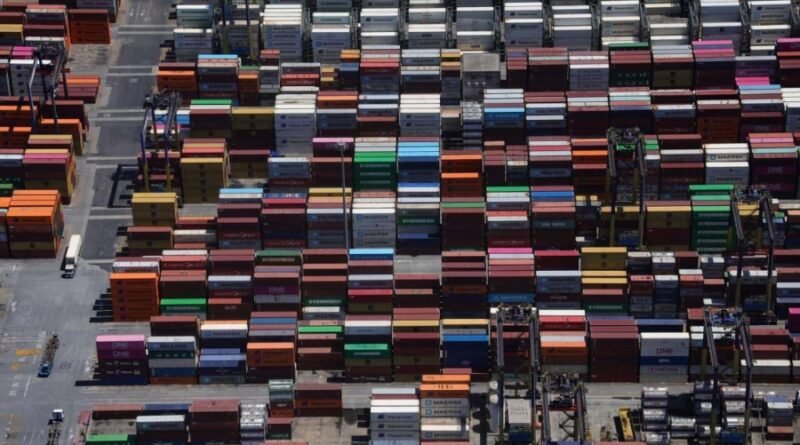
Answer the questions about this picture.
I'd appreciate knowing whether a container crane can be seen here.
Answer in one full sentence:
Yes, there is a container crane in the image.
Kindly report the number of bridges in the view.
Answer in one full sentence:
I count no bridges.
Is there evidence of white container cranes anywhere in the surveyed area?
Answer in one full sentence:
No, the frame has no white container crane in it.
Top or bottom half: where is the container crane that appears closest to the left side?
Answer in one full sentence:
The container crane that appears closest to the left side is in the top half of the image.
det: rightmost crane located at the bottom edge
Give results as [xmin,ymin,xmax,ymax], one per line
[696,307,758,445]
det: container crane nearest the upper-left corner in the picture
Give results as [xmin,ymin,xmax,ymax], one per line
[23,41,77,134]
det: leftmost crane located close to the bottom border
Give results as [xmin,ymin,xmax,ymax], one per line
[490,308,539,445]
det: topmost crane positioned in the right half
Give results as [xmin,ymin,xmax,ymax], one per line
[600,130,649,252]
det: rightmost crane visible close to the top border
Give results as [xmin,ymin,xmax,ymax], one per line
[219,0,259,66]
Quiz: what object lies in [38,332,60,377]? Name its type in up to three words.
truck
